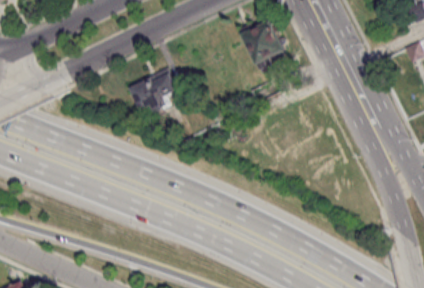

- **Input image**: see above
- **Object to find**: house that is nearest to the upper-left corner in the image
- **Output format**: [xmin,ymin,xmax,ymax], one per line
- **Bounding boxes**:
[127,67,176,110]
